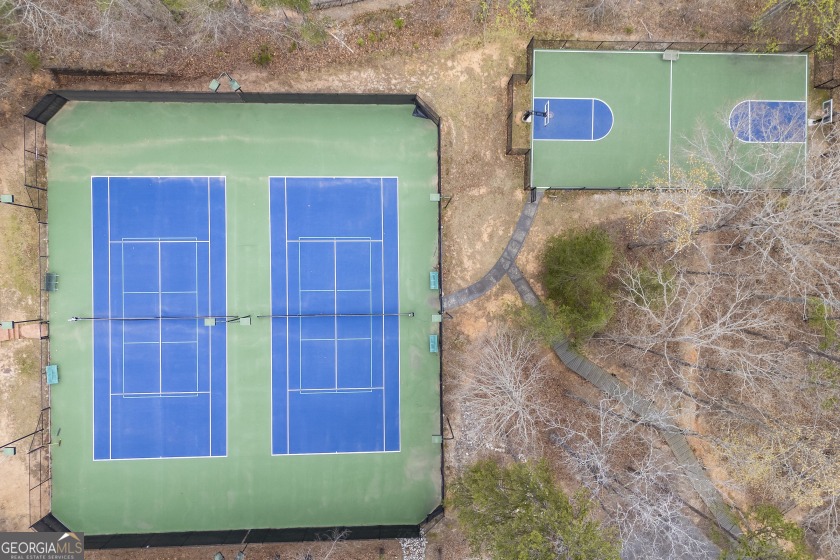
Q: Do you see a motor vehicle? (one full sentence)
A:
No, I find no motor vehicle anywhere in the image.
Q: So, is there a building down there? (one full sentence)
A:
No, there is no building in the image.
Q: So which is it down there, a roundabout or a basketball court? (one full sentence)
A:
This aerial view contains a basketball court.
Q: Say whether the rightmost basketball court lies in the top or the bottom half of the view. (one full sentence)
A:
Seen from above, the rightmost basketball court lies in the top half of the view.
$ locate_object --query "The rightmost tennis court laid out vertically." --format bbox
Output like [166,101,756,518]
[247,103,441,528]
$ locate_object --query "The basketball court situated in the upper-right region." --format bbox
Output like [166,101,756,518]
[531,49,811,190]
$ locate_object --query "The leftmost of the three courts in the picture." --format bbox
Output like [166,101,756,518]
[46,102,250,531]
